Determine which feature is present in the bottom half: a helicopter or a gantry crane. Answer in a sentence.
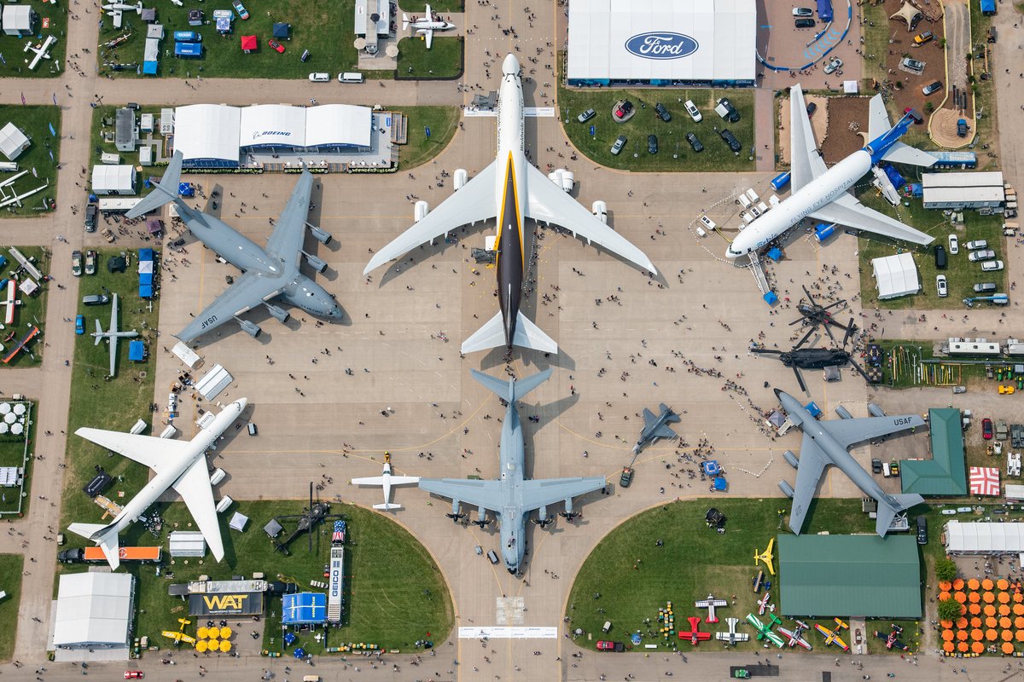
There is a helicopter in the bottom half.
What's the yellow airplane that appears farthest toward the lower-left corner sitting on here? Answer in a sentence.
The yellow airplane that appears farthest toward the lower-left corner is on the grass.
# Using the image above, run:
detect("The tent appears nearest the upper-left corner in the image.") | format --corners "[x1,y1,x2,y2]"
[2,5,34,35]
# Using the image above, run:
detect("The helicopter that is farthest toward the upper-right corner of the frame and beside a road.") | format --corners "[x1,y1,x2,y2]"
[793,288,858,337]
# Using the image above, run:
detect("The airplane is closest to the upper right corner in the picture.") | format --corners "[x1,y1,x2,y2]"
[726,79,939,255]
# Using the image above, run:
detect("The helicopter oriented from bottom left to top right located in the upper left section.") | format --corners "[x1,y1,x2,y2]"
[100,30,132,51]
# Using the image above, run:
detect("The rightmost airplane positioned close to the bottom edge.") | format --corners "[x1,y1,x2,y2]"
[873,623,909,650]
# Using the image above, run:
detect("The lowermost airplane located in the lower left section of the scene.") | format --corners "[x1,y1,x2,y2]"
[161,618,197,646]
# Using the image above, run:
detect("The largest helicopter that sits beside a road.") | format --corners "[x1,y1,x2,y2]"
[751,318,873,392]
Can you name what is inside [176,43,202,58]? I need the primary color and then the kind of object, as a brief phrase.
blue tent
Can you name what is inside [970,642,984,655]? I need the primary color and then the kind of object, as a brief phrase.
orange umbrella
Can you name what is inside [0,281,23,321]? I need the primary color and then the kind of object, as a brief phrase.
white airplane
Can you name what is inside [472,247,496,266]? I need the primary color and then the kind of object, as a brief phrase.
gray work vehicle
